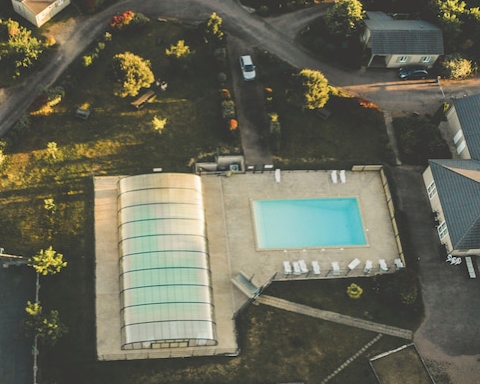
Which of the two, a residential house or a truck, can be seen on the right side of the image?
residential house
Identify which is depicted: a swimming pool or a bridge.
swimming pool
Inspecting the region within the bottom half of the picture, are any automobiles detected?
No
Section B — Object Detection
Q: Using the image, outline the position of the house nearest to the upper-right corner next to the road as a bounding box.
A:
[362,12,446,66]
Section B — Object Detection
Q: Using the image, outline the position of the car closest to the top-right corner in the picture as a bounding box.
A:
[398,65,430,82]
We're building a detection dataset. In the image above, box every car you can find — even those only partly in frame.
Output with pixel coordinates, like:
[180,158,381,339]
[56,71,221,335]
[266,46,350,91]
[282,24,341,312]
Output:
[398,65,430,82]
[239,53,258,83]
